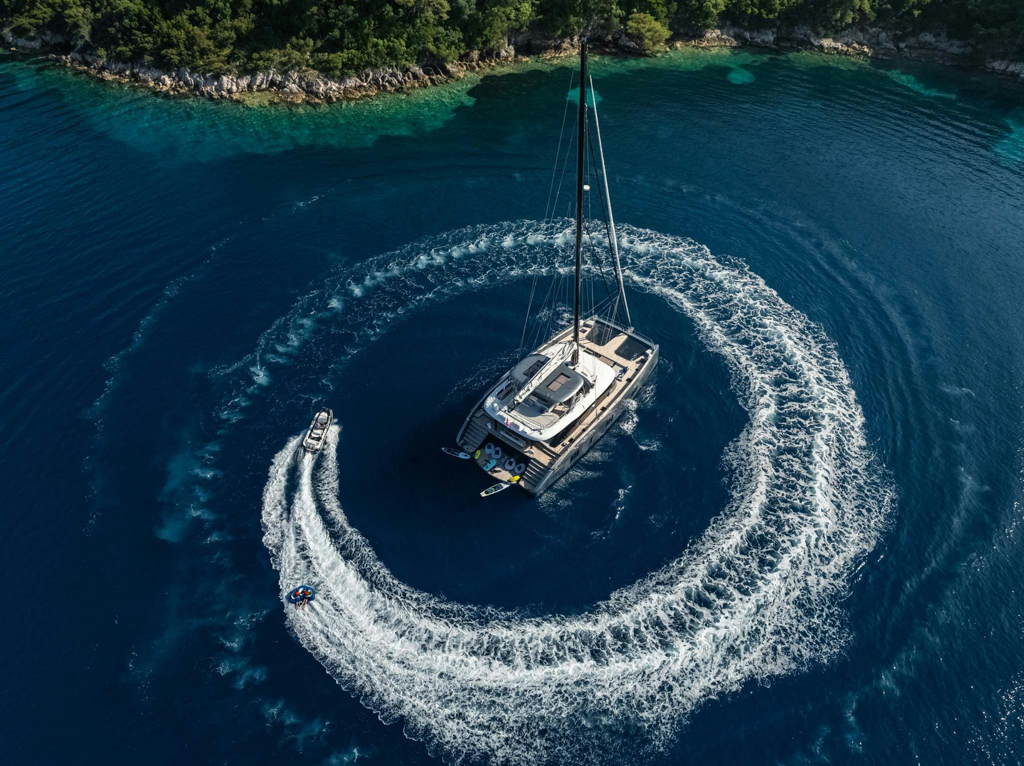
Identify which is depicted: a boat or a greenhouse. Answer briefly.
boat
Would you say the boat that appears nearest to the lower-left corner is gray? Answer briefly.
Yes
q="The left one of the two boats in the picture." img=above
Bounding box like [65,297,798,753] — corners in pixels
[299,403,332,458]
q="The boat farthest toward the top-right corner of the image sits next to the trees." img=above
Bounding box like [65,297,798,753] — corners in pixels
[449,18,660,501]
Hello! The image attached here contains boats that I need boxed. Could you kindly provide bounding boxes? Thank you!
[299,403,332,458]
[449,18,660,501]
